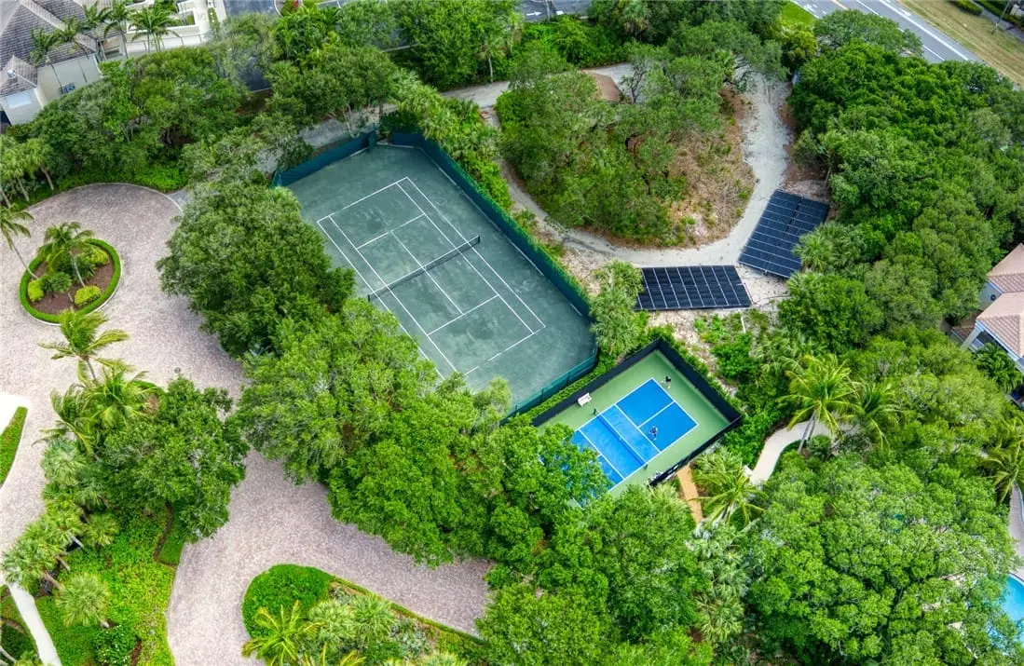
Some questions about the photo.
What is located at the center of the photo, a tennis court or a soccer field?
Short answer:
tennis court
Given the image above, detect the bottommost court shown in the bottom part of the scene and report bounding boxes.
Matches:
[445,351,731,553]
